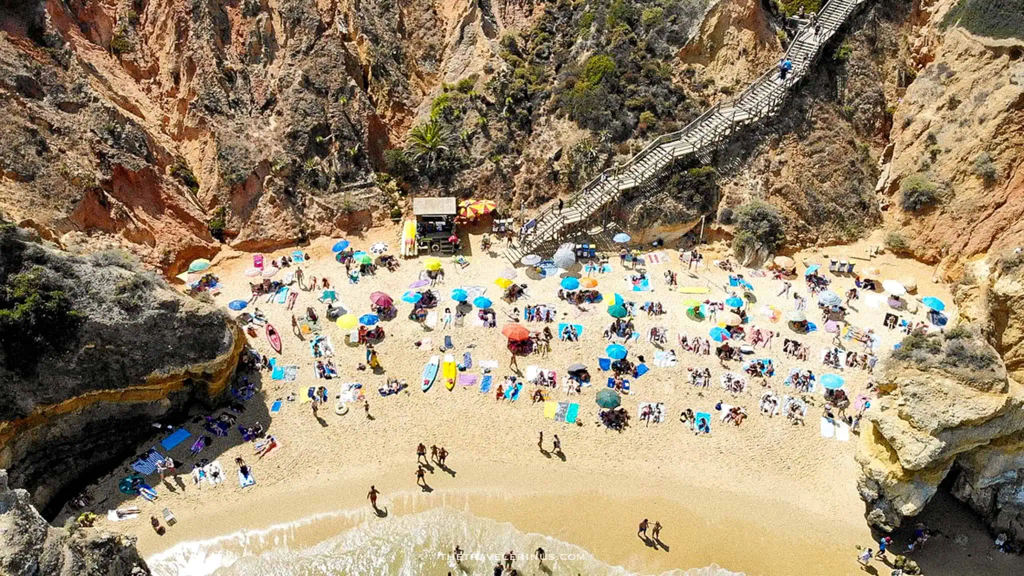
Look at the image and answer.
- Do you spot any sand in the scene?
Yes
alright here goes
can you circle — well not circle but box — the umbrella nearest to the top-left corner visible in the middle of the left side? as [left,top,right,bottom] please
[193,256,212,287]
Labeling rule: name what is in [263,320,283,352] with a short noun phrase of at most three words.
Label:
boat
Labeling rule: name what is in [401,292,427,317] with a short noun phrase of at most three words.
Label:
umbrella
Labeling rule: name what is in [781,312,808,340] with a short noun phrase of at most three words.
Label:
umbrella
